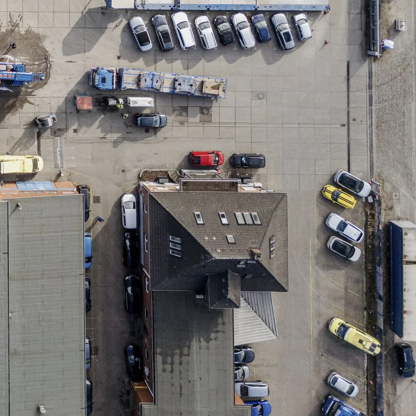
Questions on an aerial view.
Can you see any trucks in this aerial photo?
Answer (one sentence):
Yes, this view includes a truck.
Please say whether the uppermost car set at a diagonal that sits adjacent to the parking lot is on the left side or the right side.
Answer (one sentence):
It is on the right.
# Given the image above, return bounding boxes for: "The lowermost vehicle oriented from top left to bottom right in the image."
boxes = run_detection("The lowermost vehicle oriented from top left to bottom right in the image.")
[325,392,363,416]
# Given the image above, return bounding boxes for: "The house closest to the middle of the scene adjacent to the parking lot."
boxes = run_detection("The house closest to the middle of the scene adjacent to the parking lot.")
[136,158,289,311]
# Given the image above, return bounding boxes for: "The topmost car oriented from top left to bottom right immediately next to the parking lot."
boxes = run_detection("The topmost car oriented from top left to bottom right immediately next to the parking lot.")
[334,166,371,196]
